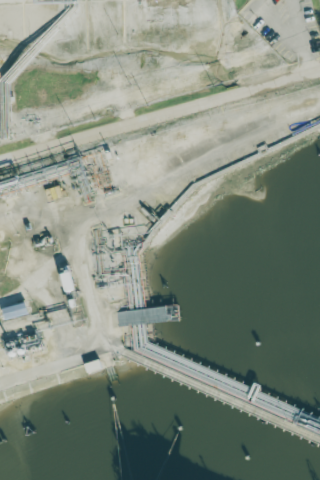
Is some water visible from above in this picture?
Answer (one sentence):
Yes, there's water in this view.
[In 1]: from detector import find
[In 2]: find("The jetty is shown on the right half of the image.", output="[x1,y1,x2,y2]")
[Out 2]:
[108,341,320,442]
